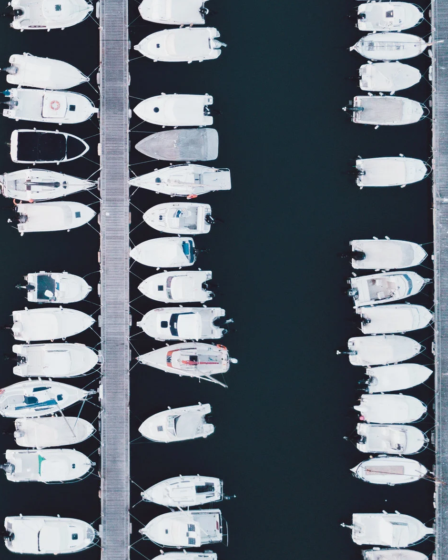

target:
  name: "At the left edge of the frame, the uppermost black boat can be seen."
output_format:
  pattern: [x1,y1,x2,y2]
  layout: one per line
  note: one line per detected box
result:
[8,130,90,164]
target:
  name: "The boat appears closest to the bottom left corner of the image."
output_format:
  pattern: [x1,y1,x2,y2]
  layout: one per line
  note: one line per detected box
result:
[0,515,99,555]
